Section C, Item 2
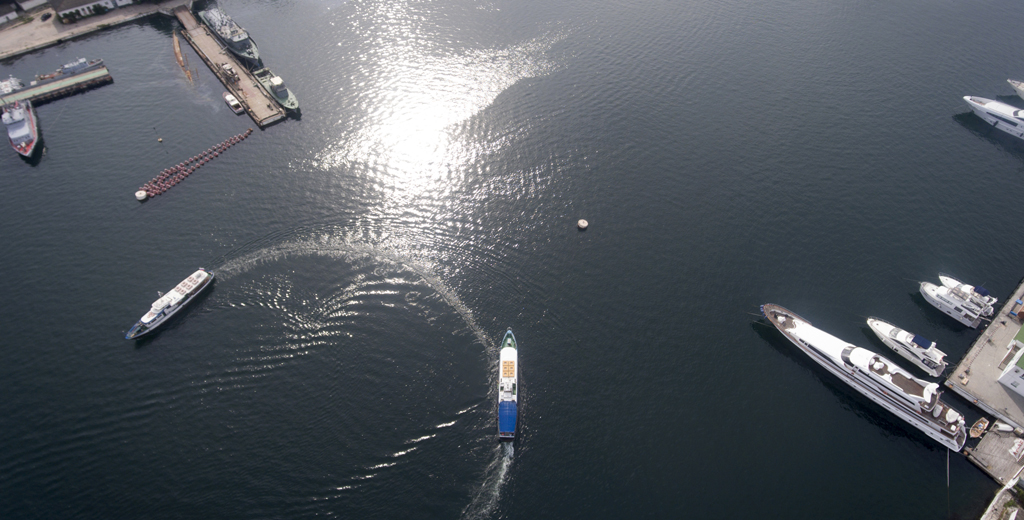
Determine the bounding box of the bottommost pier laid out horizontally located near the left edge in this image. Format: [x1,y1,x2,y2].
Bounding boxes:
[0,64,109,111]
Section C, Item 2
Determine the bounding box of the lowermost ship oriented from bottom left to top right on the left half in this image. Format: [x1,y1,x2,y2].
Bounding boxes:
[124,266,220,340]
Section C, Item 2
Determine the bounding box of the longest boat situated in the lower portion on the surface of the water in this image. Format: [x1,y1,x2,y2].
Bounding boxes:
[760,303,969,452]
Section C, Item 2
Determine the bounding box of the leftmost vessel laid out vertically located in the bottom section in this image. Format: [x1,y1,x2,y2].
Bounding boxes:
[497,328,520,441]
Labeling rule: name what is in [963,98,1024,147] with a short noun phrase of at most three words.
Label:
boat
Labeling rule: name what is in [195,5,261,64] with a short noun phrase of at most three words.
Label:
ship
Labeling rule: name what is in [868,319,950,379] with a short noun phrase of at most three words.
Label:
boat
